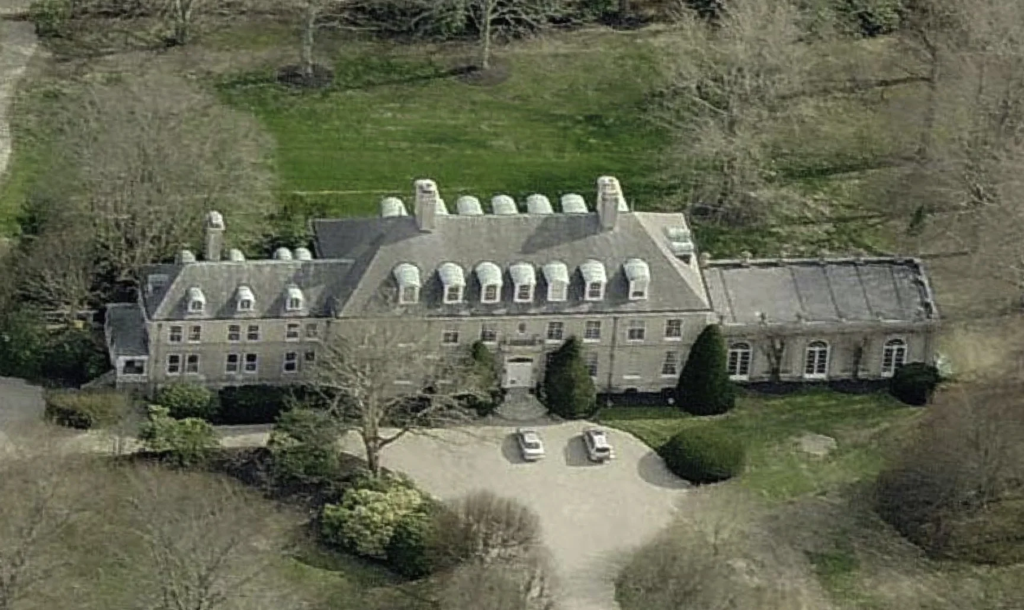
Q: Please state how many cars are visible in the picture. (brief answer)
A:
2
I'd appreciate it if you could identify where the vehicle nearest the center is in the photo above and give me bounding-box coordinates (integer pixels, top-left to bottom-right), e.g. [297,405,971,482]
[516,429,544,461]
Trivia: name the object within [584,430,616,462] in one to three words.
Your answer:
car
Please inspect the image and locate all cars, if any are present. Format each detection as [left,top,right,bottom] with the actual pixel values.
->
[584,430,616,462]
[516,429,544,461]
